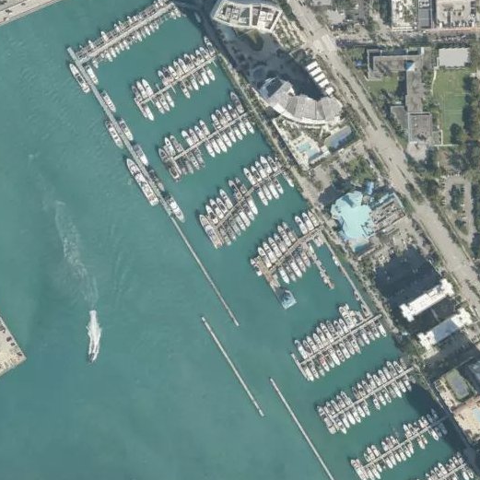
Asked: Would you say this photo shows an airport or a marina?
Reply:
marina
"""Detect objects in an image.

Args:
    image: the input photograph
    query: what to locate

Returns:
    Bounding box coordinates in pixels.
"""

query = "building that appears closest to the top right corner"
[436,0,475,28]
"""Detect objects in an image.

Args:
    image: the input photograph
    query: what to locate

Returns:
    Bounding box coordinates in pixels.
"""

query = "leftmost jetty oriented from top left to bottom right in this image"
[67,46,173,217]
